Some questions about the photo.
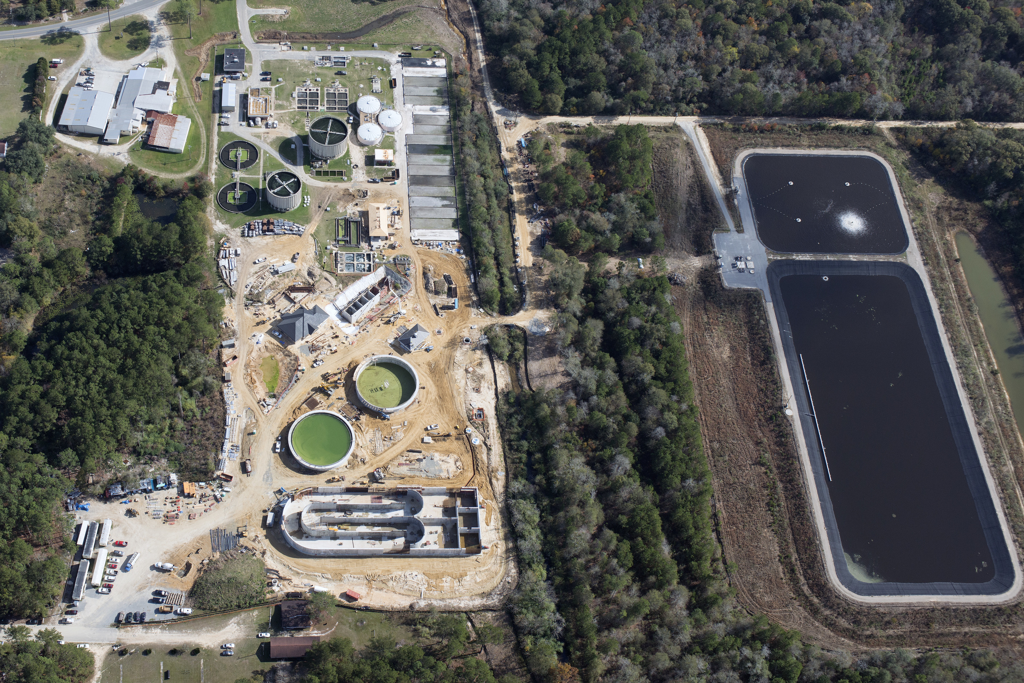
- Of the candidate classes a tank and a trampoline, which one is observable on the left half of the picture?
tank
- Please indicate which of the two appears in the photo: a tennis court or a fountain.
fountain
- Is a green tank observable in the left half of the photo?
Yes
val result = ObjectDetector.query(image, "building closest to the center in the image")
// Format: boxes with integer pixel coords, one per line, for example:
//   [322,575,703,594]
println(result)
[399,324,429,355]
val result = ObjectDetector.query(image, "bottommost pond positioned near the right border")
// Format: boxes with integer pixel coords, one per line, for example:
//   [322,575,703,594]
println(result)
[767,260,1015,596]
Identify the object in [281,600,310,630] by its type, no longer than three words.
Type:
house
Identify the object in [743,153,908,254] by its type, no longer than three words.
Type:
pond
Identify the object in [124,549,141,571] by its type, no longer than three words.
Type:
vehicle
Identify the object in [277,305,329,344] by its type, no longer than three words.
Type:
building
